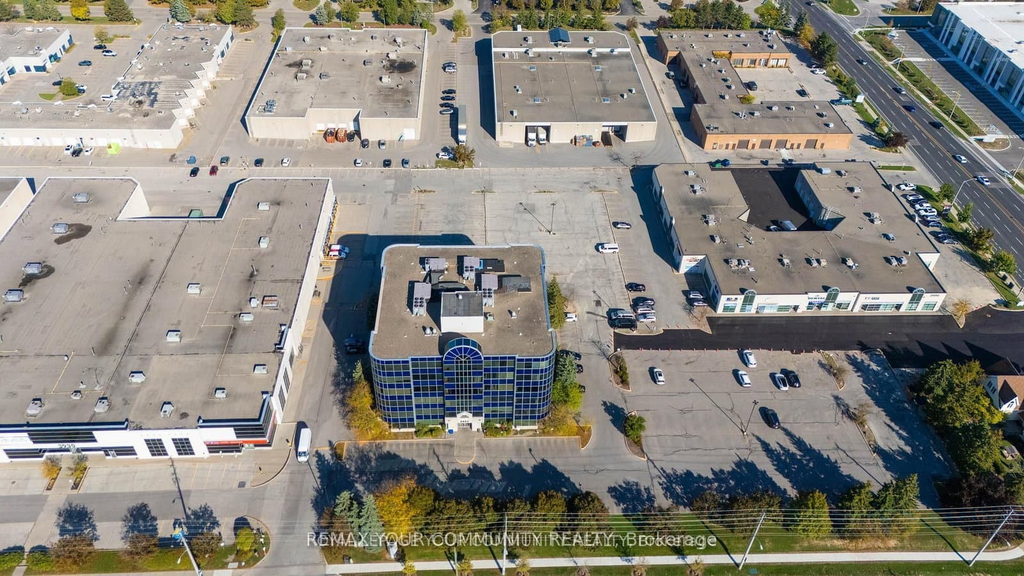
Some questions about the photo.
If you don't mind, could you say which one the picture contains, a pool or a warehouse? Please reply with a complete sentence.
The one in the frame is a warehouse.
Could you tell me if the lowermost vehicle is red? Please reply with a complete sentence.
No, from above the lowermost vehicle looks white.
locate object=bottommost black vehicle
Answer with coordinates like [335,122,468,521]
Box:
[763,409,781,429]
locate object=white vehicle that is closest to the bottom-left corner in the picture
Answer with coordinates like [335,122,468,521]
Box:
[295,427,315,460]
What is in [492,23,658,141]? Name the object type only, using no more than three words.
warehouse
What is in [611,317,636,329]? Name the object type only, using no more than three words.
vehicle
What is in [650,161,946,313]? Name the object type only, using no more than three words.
building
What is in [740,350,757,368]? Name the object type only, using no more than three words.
car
